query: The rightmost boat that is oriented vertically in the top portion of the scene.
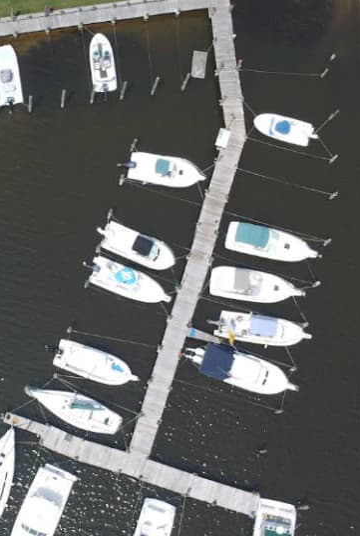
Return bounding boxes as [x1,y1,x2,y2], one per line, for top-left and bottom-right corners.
[90,33,116,102]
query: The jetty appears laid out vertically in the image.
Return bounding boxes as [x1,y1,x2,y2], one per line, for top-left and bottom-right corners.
[131,0,248,452]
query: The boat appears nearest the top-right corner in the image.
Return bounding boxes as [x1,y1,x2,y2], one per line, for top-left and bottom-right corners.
[254,115,320,144]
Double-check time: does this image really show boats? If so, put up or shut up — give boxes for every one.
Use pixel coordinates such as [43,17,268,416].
[90,33,116,102]
[25,388,122,436]
[0,429,15,516]
[181,340,300,394]
[203,309,312,349]
[254,115,320,144]
[11,454,84,536]
[83,257,171,300]
[45,339,139,383]
[0,46,23,115]
[117,153,206,186]
[250,497,299,536]
[96,221,177,268]
[131,496,177,536]
[220,222,317,261]
[209,268,302,303]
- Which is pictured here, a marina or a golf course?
marina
